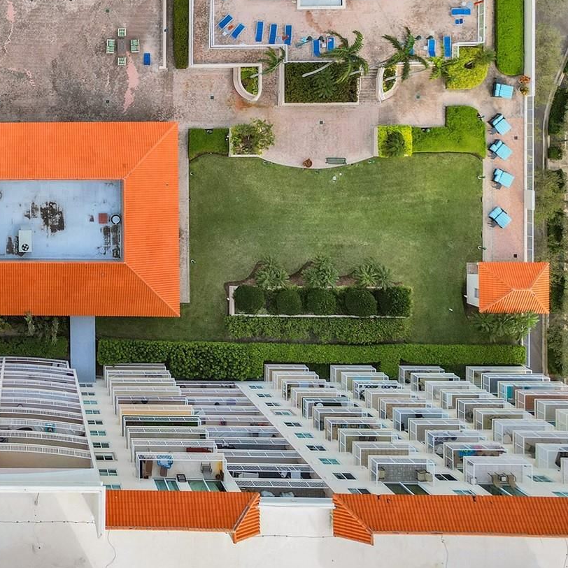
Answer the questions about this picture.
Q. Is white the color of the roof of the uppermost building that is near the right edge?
No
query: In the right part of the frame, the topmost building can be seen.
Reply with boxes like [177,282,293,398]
[459,261,551,315]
